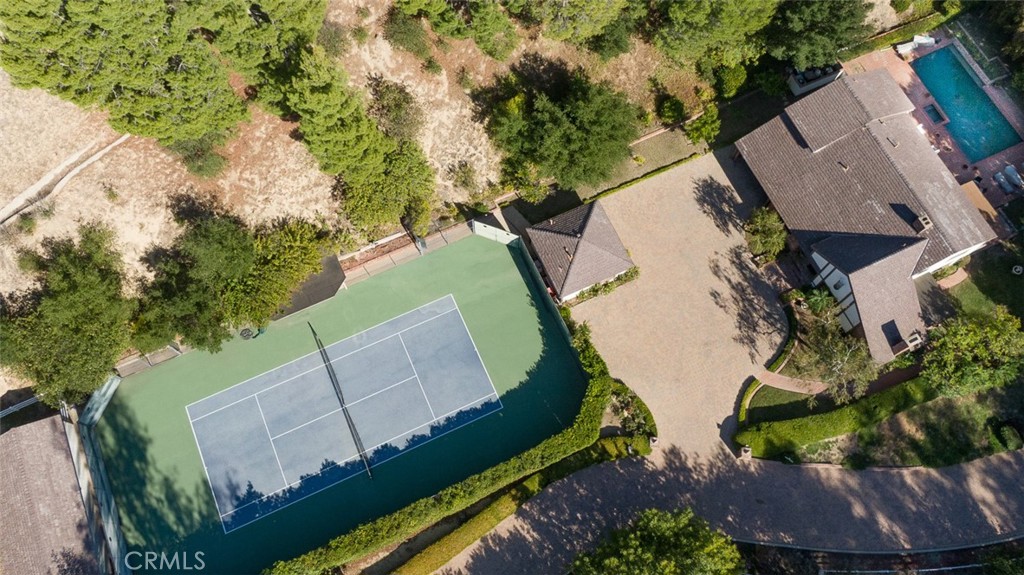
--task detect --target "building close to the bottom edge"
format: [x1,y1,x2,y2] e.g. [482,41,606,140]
[0,416,110,575]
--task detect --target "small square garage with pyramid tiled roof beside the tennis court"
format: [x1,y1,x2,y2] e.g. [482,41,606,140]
[524,198,635,302]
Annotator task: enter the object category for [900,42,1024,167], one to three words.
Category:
swimming pool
